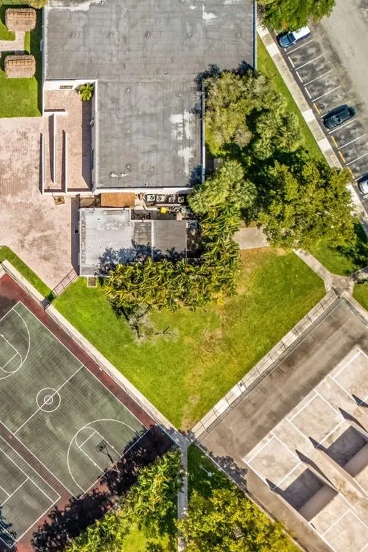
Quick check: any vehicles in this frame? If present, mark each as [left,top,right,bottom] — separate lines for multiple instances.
[274,22,314,51]
[321,105,353,128]
[355,178,368,195]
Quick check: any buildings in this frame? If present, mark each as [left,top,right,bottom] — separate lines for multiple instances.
[5,8,37,34]
[3,55,36,79]
[75,208,153,277]
[42,0,255,193]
